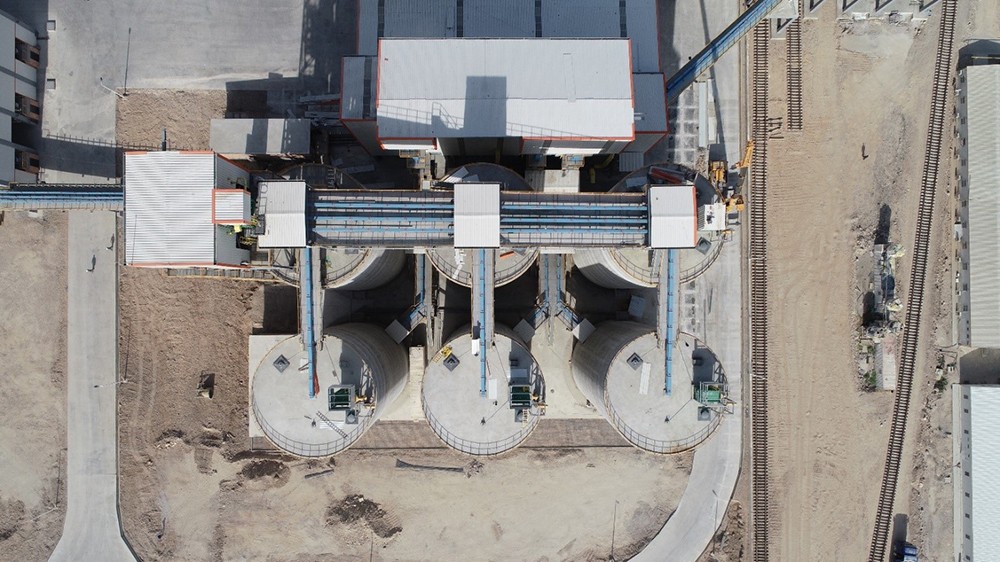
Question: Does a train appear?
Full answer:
No, the scene contains no train.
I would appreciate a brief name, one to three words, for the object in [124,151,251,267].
building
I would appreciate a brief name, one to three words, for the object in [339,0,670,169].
building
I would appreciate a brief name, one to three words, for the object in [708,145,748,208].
truck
